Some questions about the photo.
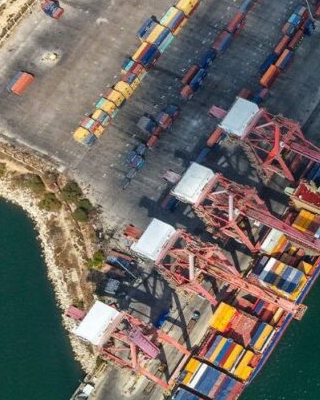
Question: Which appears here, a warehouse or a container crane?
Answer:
container crane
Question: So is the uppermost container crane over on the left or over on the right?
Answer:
right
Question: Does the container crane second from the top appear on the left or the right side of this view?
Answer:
right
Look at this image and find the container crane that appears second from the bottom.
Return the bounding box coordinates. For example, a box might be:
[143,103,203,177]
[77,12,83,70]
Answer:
[122,217,309,321]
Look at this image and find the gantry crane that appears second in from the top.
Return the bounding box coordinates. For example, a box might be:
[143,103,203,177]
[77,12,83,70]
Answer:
[163,160,320,253]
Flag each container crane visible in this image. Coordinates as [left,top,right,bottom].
[122,217,309,321]
[209,95,320,189]
[63,299,193,389]
[163,160,320,253]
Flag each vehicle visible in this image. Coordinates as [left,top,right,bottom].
[138,382,154,399]
[185,311,200,333]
